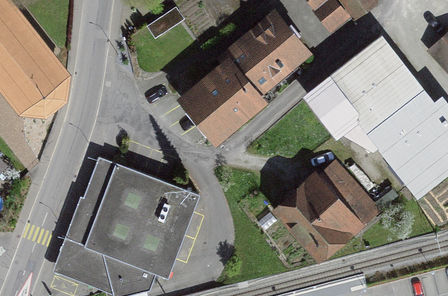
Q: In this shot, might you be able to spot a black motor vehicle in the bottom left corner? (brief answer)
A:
No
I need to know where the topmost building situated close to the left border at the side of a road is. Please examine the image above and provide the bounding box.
[0,0,71,118]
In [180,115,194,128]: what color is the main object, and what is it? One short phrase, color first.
black vehicle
